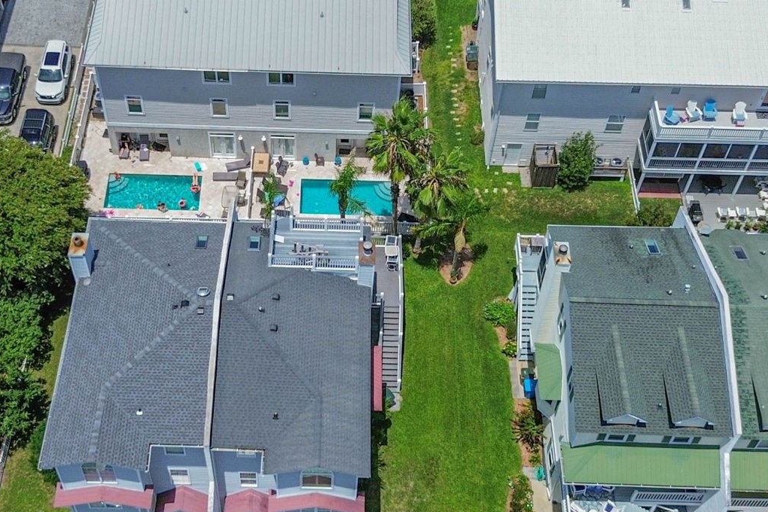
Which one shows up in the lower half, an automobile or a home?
home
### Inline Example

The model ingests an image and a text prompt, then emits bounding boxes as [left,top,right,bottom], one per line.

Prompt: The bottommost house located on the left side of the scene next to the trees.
[39,188,406,512]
